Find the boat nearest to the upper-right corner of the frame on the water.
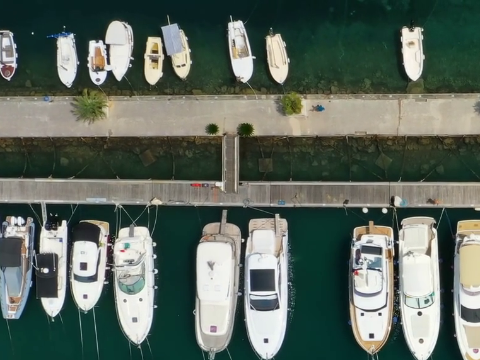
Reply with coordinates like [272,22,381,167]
[400,19,426,81]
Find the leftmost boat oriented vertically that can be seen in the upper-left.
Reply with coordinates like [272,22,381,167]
[0,33,20,81]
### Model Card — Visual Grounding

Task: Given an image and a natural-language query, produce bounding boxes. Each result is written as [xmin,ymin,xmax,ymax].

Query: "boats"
[346,221,397,360]
[105,21,136,83]
[39,25,80,90]
[33,205,70,321]
[192,210,245,358]
[84,40,109,85]
[226,15,257,84]
[400,19,426,81]
[161,14,193,81]
[142,37,167,86]
[244,214,291,360]
[450,220,480,360]
[262,25,291,85]
[112,225,157,349]
[0,214,35,319]
[69,221,112,316]
[0,33,20,81]
[395,217,443,360]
